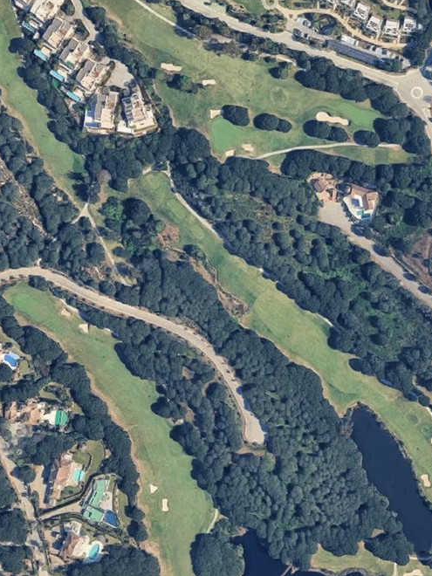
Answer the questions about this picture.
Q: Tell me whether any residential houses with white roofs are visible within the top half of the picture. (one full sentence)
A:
Yes, a residential house with a white roof shows up within the top half of the picture.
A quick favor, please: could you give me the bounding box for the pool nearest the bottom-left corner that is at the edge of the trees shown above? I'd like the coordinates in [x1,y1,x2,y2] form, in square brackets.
[86,541,101,562]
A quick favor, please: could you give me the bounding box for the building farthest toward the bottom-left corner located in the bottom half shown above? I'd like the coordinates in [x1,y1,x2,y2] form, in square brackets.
[55,517,84,562]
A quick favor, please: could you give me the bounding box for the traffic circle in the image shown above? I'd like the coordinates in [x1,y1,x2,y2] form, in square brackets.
[394,69,432,112]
